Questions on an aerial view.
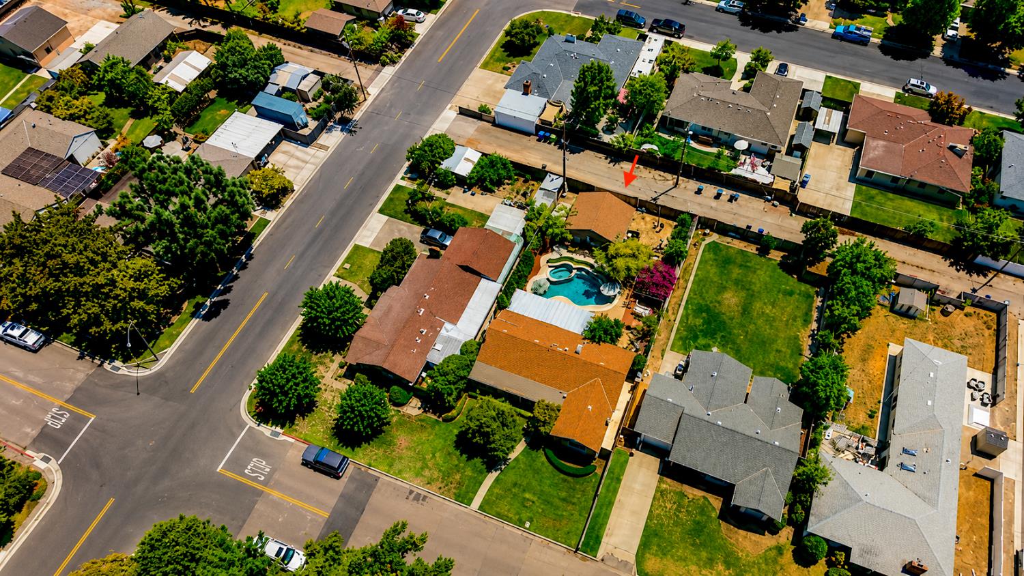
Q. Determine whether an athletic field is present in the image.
No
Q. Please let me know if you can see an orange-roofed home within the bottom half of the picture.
Yes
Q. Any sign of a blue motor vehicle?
Yes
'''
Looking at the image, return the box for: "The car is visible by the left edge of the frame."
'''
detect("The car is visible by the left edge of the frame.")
[1,325,44,352]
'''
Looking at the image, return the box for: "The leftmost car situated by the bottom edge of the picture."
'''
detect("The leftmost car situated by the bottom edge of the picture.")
[255,535,308,573]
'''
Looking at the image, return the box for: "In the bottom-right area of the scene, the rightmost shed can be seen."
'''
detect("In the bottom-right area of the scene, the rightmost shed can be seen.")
[973,428,1009,457]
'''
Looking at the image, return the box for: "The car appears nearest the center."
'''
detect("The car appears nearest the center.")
[417,228,452,251]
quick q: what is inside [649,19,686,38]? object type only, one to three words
vehicle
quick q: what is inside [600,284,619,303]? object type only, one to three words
umbrella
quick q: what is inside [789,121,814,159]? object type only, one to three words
shed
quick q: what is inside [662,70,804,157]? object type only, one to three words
house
